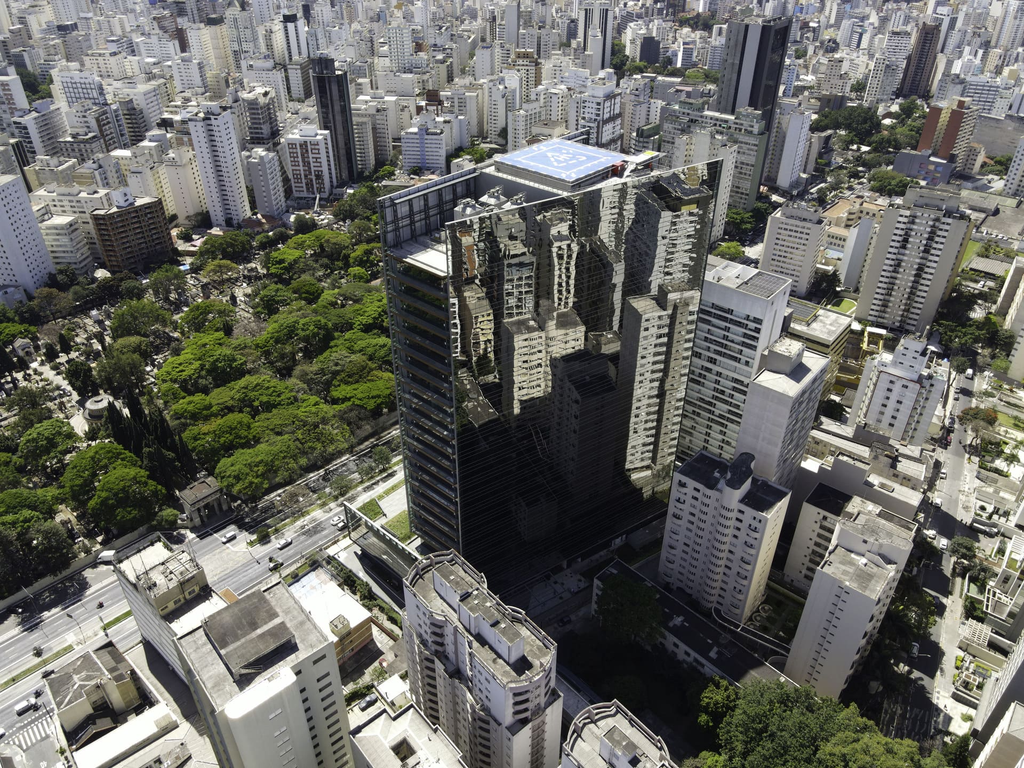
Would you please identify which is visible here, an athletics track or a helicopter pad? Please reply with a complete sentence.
The image shows a helicopter pad.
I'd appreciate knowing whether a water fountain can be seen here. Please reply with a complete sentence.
No, no water fountain is visible in the view.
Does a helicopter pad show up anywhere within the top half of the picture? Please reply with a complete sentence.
Yes, you'll find a helicopter pad within the top half of the picture.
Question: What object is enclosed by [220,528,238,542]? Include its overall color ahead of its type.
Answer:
white car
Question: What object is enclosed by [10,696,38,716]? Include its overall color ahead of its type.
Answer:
white vehicle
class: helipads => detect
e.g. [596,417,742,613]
[494,137,627,190]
